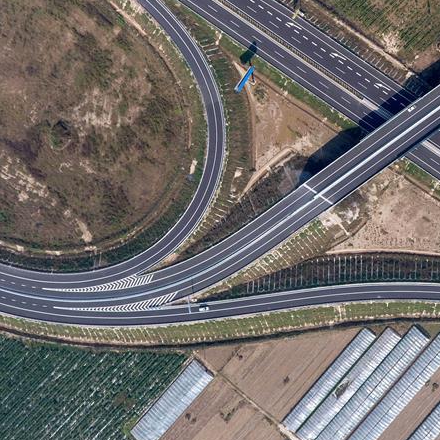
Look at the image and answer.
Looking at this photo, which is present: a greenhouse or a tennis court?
greenhouse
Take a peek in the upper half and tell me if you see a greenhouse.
No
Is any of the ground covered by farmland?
Yes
